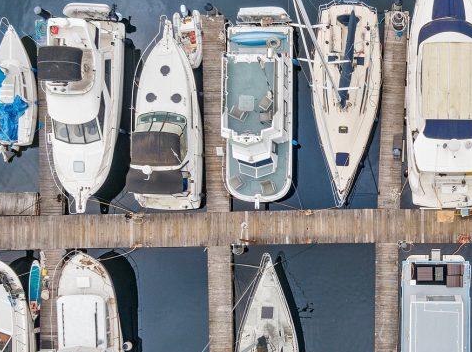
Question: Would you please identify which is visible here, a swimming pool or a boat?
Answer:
boat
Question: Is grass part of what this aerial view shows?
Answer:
No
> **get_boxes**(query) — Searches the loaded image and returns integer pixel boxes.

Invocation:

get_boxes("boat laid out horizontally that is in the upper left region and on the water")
[62,0,110,22]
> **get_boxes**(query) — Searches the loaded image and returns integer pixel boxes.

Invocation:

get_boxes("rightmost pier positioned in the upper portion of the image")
[377,10,408,209]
